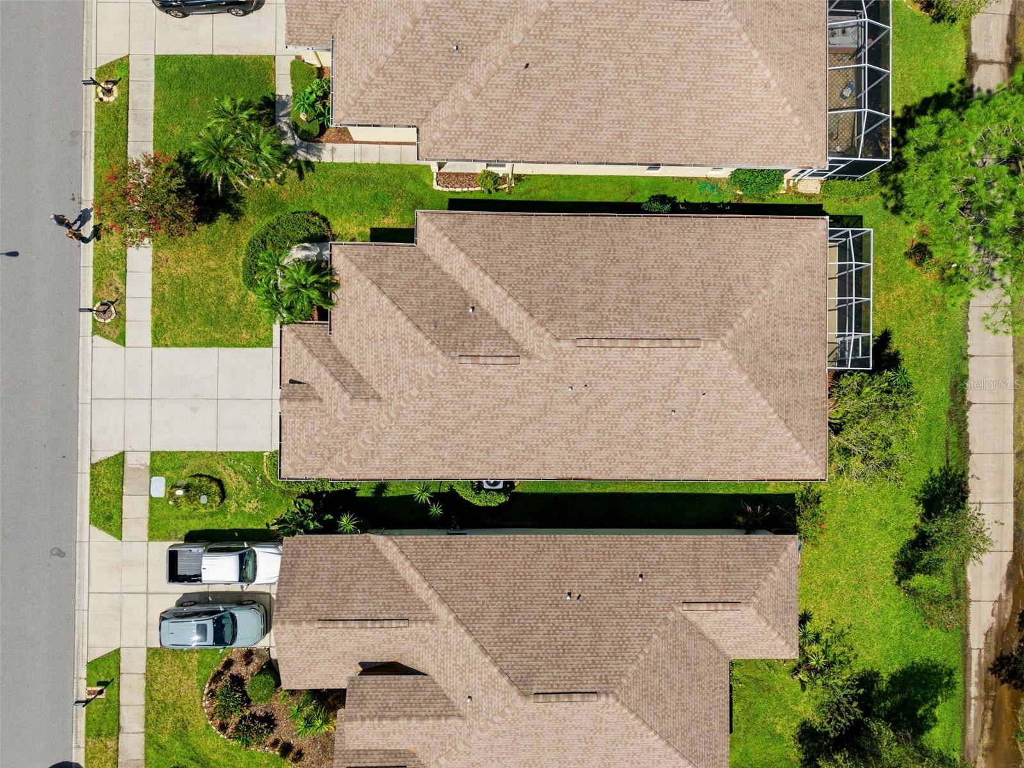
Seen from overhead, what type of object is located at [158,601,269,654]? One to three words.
car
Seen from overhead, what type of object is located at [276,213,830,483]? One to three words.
house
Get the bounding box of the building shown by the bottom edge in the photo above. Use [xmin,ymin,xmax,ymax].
[270,528,800,768]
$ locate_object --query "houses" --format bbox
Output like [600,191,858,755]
[270,528,800,768]
[276,213,830,483]
[281,0,829,188]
